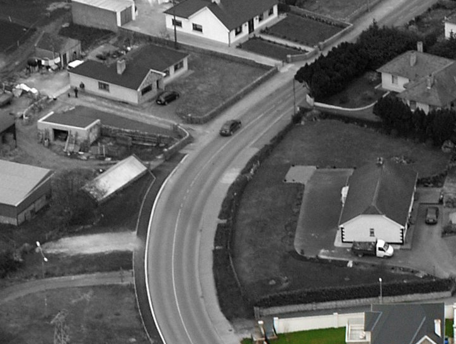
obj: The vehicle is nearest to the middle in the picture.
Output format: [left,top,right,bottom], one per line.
[219,121,241,136]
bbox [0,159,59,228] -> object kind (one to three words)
shed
